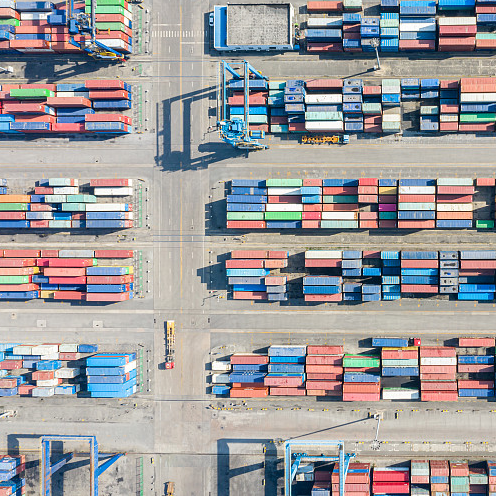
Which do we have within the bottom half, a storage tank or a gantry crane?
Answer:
gantry crane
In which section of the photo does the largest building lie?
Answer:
top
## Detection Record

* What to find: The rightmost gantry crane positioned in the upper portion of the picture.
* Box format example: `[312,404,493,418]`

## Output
[219,59,271,154]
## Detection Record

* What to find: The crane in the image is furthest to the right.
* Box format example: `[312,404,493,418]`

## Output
[284,438,356,496]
